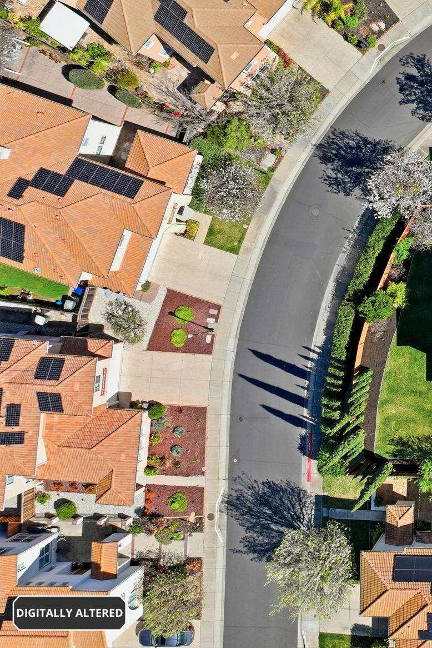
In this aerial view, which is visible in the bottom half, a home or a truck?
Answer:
home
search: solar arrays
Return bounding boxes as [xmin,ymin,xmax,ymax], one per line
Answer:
[0,432,24,445]
[34,392,62,413]
[152,0,213,63]
[32,357,64,380]
[0,339,13,361]
[392,557,432,582]
[82,0,112,23]
[419,615,432,641]
[7,157,142,199]
[0,218,23,263]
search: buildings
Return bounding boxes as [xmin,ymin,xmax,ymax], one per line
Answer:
[0,528,145,648]
[68,0,302,110]
[359,495,432,648]
[0,332,154,512]
[0,83,204,299]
